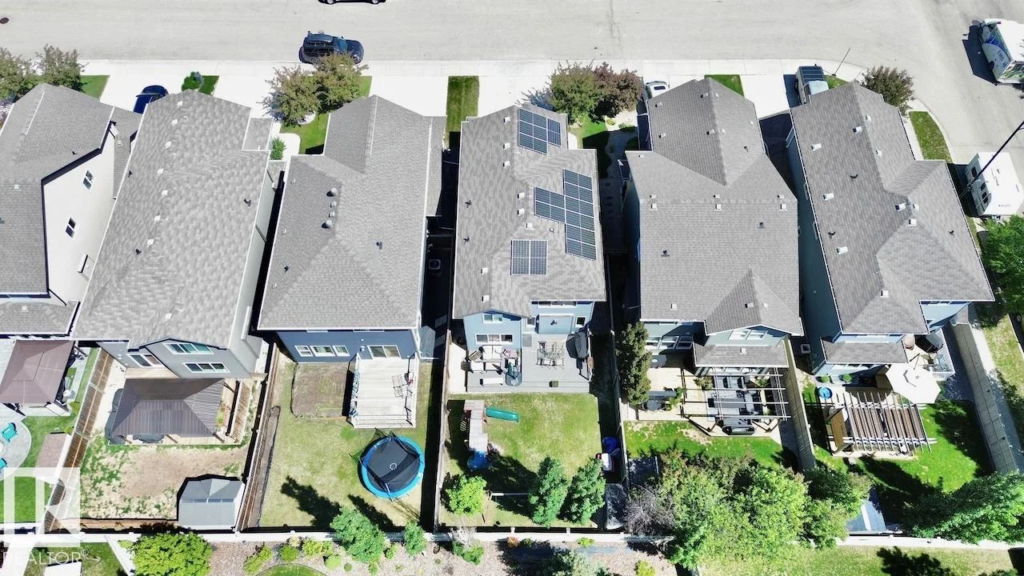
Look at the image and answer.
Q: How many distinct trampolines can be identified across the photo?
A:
one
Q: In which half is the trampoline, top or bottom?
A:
bottom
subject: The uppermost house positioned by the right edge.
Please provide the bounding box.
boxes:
[771,89,996,375]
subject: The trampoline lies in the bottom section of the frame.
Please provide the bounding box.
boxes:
[356,428,426,502]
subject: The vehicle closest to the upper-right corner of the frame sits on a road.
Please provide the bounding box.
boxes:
[981,19,1024,81]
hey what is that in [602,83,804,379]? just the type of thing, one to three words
house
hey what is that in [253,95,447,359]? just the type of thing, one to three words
house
